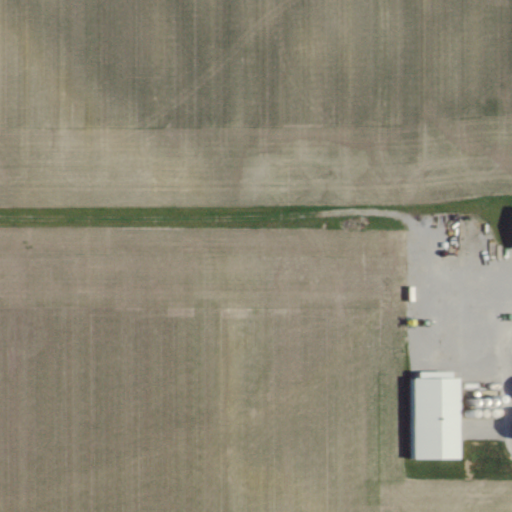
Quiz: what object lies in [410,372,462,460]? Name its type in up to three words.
shed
